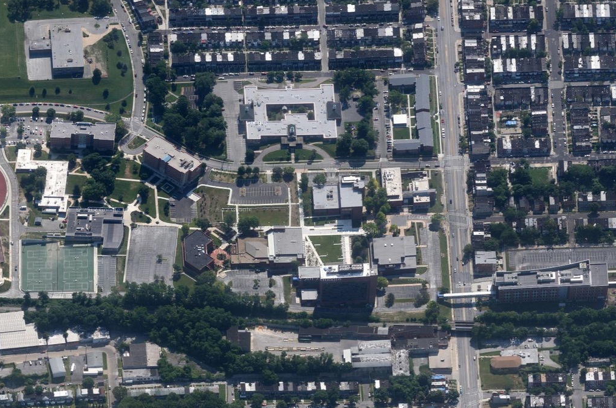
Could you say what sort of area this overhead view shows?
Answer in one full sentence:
The picture captures a residential area.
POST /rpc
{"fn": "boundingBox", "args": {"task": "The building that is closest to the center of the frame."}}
[313,185,340,215]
